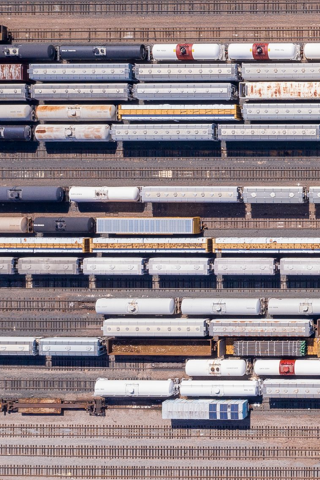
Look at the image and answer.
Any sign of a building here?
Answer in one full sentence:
No, I can see no building in this picture.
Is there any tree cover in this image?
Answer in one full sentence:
No, no tree cover is visible.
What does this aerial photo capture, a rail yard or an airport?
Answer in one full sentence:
It's a rail yard.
